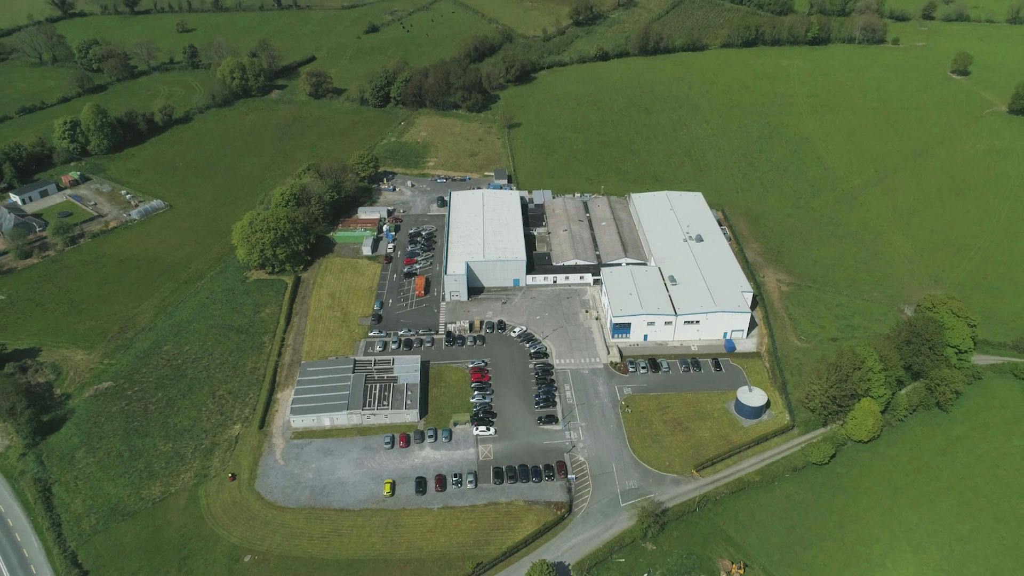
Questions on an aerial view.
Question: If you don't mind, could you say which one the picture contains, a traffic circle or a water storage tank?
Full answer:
It is a water storage tank that can be seen here.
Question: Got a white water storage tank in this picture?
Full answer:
Yes, the picture does show a white water storage tank.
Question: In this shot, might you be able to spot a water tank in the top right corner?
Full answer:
No, no water tank can be made out in the top right corner.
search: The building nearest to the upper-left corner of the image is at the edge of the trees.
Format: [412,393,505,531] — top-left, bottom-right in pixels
[5,178,59,205]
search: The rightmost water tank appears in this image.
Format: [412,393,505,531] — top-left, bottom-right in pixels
[732,377,770,423]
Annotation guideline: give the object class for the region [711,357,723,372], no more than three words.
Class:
vehicle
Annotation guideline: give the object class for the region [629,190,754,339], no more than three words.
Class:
building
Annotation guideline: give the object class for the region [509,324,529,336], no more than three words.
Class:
vehicle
